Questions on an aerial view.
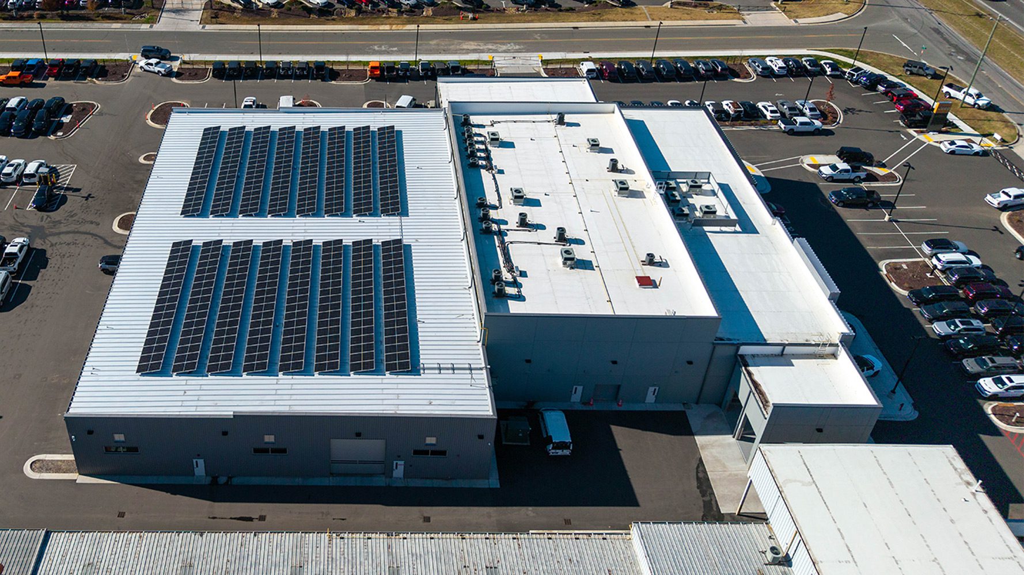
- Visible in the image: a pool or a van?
van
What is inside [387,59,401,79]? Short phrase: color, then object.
black vehicle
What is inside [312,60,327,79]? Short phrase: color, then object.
black vehicle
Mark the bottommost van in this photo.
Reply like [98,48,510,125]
[536,406,573,459]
